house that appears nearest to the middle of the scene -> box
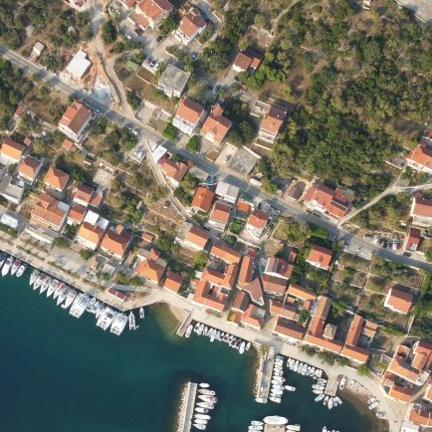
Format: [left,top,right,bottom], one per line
[207,201,231,232]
